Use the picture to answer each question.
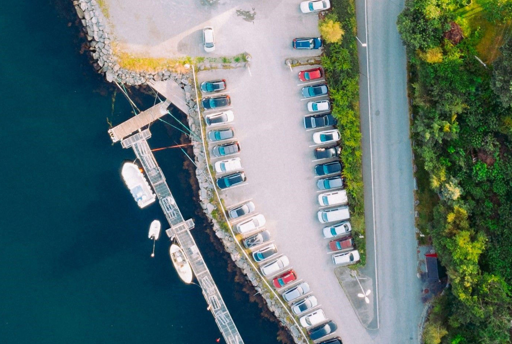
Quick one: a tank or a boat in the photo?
boat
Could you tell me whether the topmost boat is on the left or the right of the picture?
left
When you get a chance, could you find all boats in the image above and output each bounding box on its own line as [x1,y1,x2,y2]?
[149,220,160,241]
[171,244,191,283]
[122,161,155,210]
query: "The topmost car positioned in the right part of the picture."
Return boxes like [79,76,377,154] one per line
[300,0,331,13]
